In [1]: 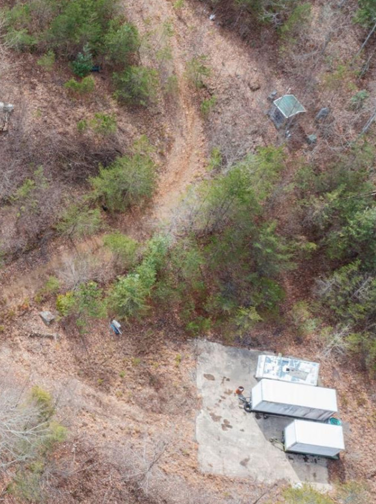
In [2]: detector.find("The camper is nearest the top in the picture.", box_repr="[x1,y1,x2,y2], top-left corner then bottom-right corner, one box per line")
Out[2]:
[238,354,319,387]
